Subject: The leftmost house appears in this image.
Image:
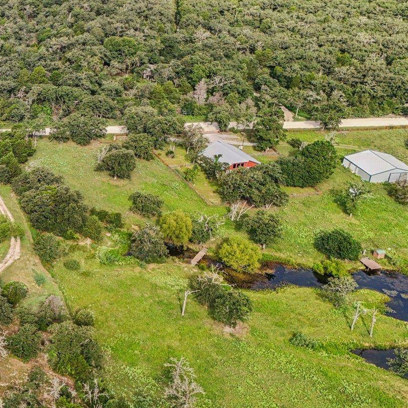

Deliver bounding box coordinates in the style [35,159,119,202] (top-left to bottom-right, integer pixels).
[199,144,258,175]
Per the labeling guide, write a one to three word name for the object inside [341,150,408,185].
barn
